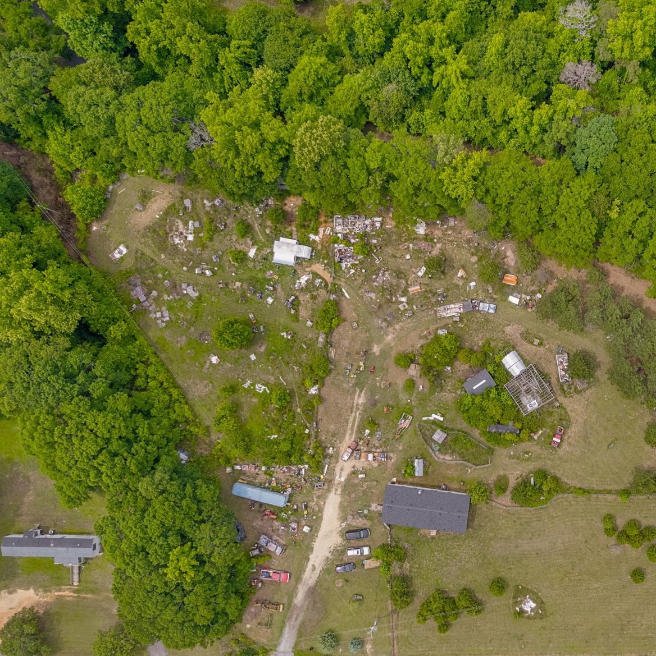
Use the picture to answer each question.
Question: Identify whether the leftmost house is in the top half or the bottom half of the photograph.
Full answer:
The leftmost house sits in the bottom half of the picture.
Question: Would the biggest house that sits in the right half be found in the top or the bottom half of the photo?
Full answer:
Seen from above, the biggest house that sits in the right half lies in the bottom half of the view.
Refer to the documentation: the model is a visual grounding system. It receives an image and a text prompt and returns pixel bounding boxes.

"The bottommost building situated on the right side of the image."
[374,483,471,535]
